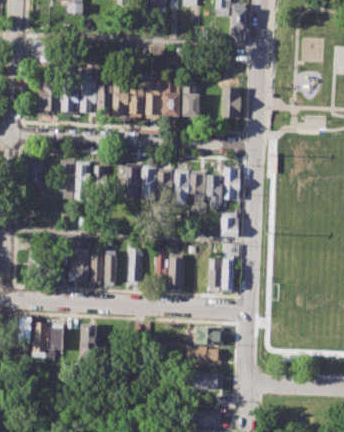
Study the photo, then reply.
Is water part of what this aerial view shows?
No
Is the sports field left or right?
right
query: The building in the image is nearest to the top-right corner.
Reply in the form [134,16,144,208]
[232,2,247,28]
